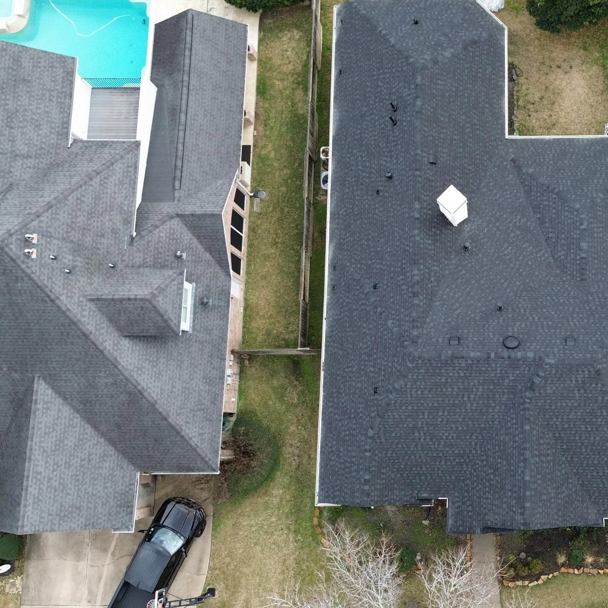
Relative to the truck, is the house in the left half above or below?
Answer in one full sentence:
It's above the truck that the house in the left half shows up.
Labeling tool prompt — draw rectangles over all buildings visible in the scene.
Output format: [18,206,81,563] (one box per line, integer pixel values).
[0,9,259,535]
[314,0,608,534]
